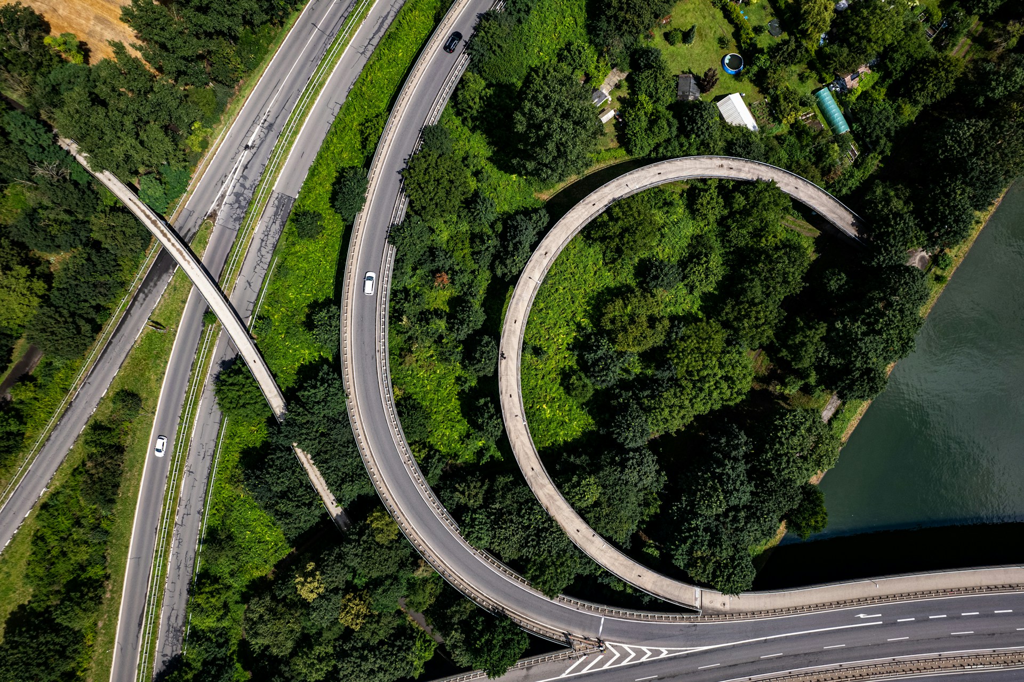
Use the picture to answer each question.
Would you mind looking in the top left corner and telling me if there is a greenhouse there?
No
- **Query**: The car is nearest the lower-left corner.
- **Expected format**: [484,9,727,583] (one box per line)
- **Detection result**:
[153,435,168,458]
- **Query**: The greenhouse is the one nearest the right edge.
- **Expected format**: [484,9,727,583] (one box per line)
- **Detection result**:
[815,86,850,133]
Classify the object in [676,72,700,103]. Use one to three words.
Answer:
shed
